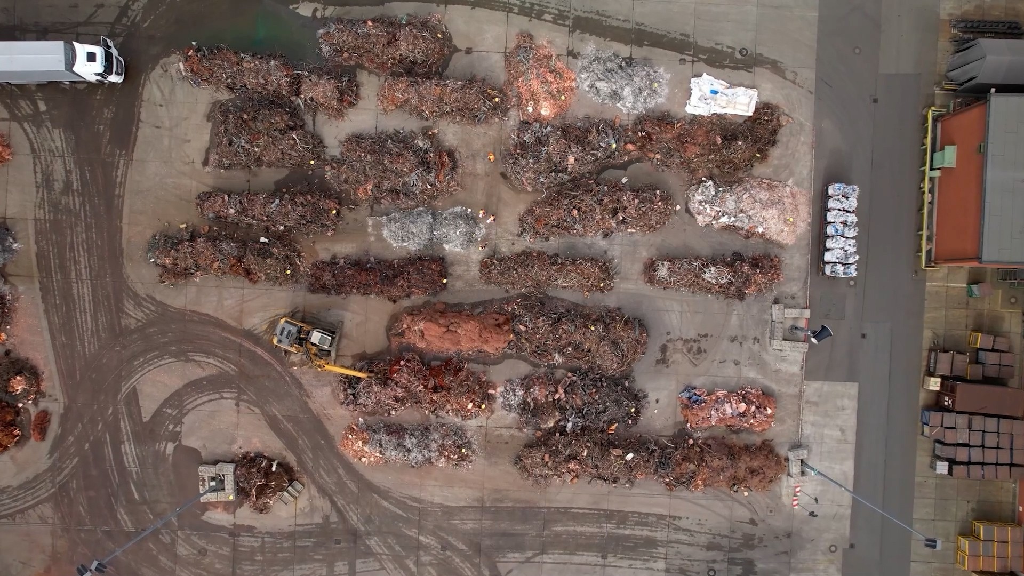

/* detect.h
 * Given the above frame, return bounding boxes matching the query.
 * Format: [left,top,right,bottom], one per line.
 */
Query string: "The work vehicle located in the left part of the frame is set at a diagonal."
[271,313,381,386]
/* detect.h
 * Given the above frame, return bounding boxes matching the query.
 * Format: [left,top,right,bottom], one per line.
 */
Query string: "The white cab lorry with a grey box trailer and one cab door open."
[0,36,125,83]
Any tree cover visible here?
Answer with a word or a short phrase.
No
